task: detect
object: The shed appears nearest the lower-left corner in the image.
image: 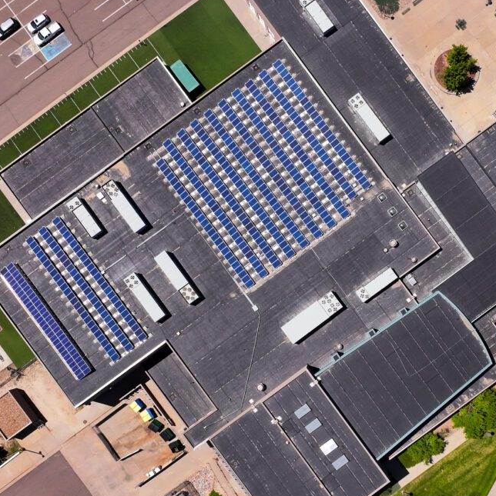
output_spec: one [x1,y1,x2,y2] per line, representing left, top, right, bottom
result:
[0,390,39,441]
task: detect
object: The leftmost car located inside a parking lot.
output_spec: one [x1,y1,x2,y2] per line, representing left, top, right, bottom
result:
[0,18,22,40]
